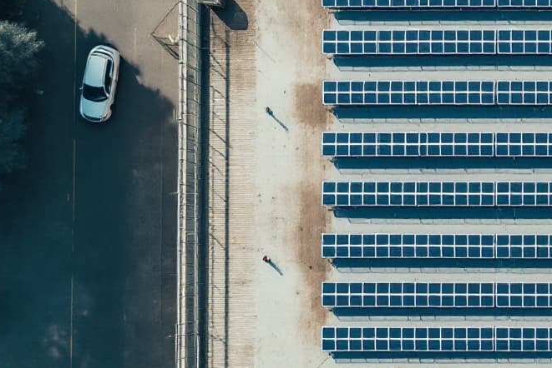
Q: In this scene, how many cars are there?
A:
1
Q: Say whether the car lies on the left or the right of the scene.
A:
left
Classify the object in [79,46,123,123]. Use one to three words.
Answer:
car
